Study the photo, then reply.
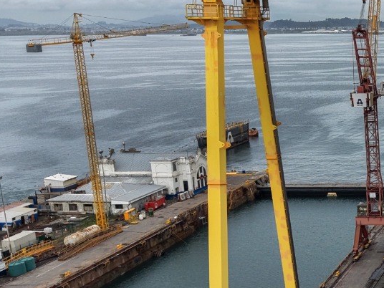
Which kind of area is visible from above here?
port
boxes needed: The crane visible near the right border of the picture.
[349,0,384,259]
